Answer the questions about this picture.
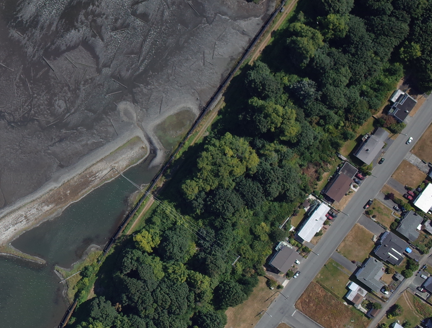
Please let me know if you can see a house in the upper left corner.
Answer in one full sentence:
No, I can find no house in the upper left corner.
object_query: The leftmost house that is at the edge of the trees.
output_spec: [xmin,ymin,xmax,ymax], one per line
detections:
[269,242,299,273]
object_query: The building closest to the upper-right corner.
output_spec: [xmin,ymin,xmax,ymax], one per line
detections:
[386,94,417,121]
